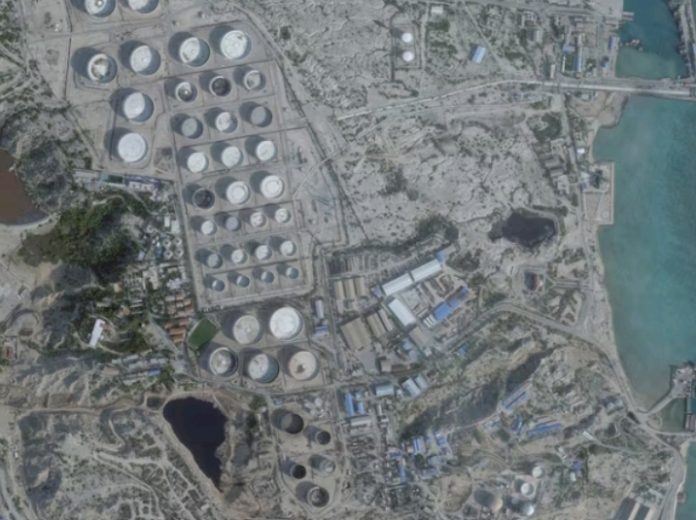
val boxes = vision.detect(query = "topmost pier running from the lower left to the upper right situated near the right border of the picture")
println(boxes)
[640,361,696,413]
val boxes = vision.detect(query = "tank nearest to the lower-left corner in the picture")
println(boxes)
[209,347,240,377]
